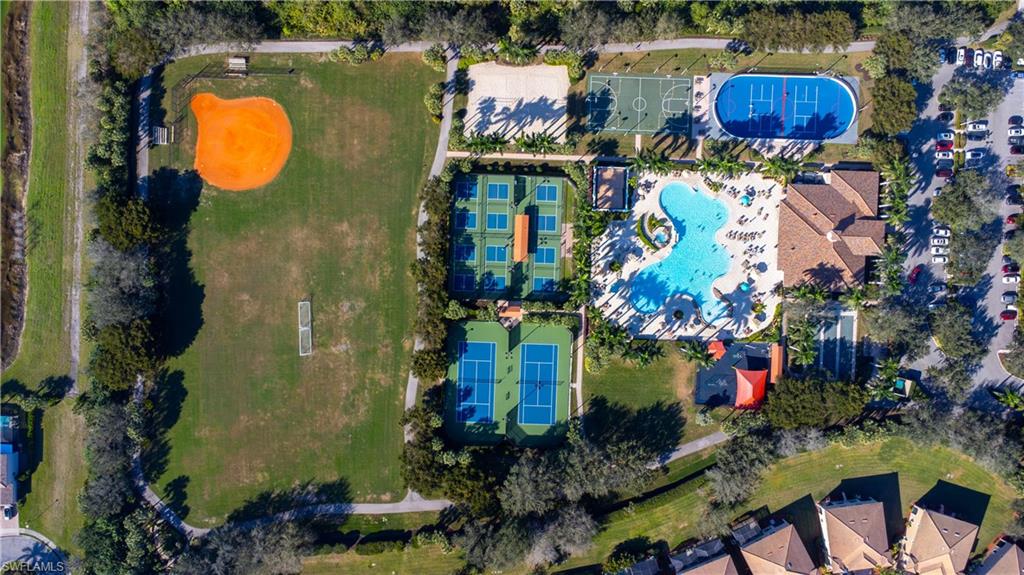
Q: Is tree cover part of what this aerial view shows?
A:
Yes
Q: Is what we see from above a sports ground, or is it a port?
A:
sports ground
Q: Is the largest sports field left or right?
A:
left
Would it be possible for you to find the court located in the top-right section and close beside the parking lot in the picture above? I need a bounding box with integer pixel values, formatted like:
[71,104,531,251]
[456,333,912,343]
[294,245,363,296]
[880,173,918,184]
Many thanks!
[705,73,860,144]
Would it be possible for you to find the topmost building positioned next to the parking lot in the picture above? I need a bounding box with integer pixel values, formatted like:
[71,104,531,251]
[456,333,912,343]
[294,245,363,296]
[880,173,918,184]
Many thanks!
[777,170,885,288]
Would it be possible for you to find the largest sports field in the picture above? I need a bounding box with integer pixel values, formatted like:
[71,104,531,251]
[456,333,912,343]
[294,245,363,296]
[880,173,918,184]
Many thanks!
[148,51,448,529]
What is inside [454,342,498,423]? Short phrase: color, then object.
blue tennis court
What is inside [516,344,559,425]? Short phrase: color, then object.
blue tennis court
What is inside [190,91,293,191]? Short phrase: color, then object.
orange baseball field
